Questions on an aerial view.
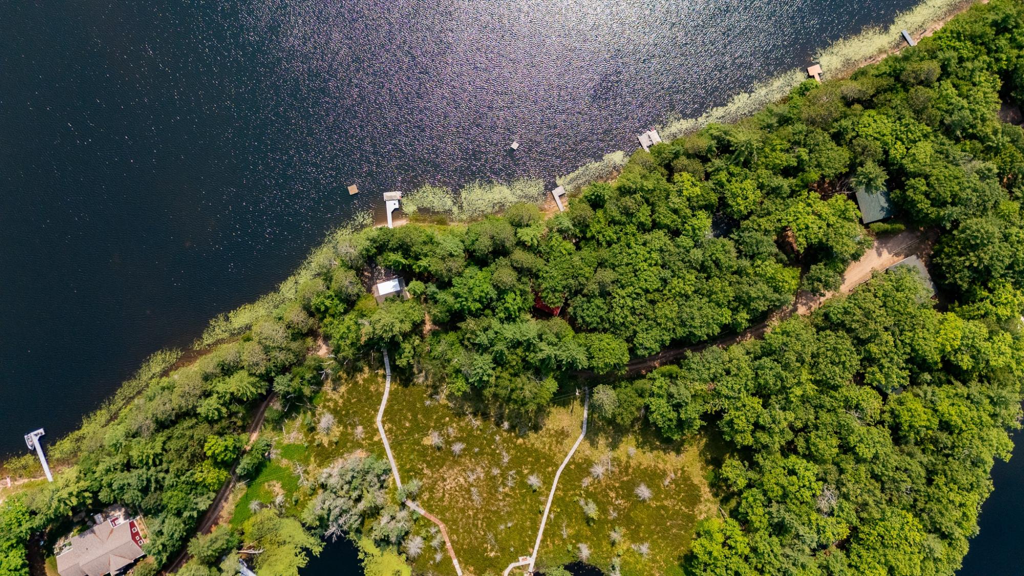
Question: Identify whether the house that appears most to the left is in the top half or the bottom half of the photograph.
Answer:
bottom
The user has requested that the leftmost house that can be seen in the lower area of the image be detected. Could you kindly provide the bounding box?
[57,514,146,576]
